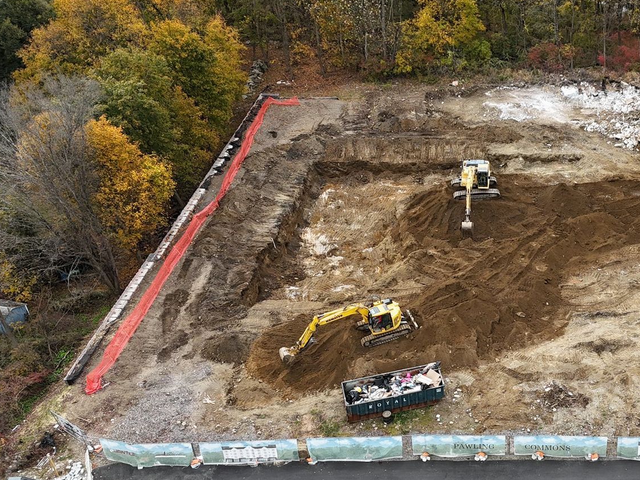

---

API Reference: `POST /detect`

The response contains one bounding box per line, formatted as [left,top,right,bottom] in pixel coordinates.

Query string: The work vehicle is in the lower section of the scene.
[280,300,427,368]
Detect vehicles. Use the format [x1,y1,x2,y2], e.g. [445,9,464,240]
[280,300,427,368]
[453,166,496,227]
